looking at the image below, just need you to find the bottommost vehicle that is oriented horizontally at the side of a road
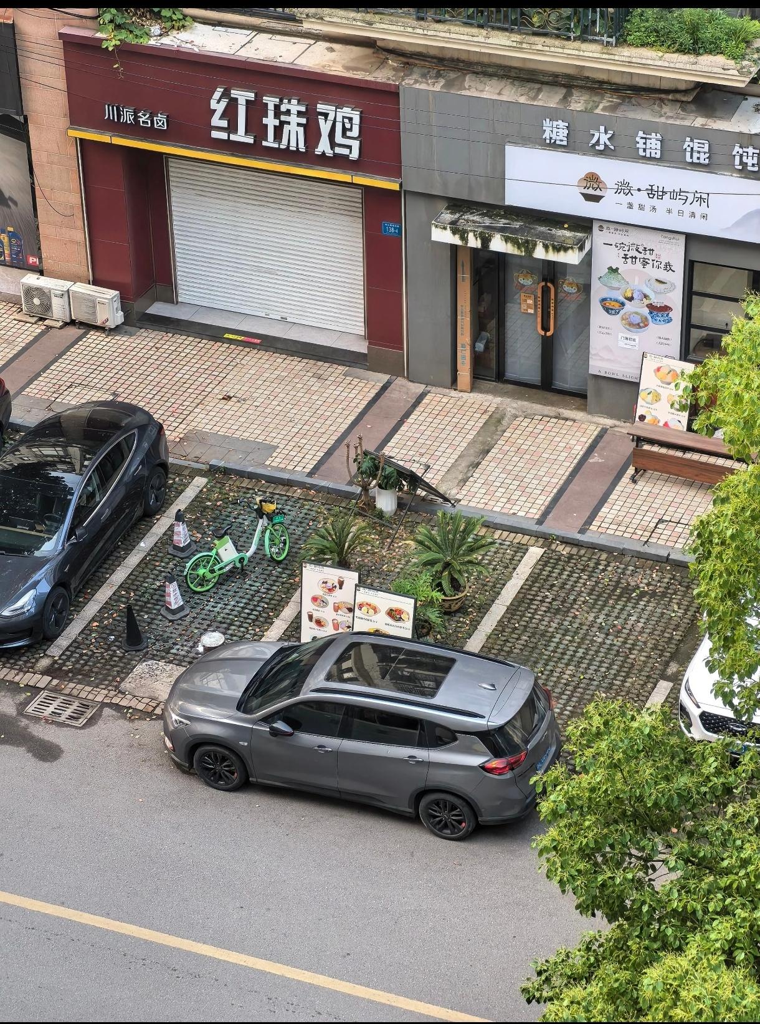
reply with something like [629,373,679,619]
[164,627,561,839]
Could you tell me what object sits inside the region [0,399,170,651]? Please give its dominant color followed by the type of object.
black car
